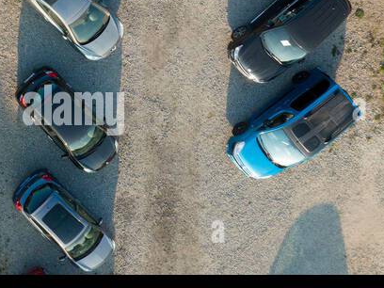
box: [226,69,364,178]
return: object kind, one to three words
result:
van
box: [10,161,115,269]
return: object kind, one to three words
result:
car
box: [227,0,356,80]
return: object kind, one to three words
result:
car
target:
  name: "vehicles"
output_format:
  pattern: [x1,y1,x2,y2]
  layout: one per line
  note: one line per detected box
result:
[28,0,122,59]
[226,69,364,178]
[18,66,117,172]
[10,161,115,269]
[227,0,356,80]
